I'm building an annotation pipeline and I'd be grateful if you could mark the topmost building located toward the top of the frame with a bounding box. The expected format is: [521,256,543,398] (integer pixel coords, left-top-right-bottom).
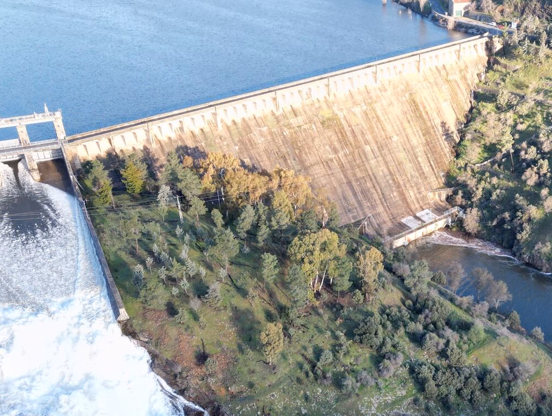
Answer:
[447,0,468,17]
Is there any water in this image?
Yes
